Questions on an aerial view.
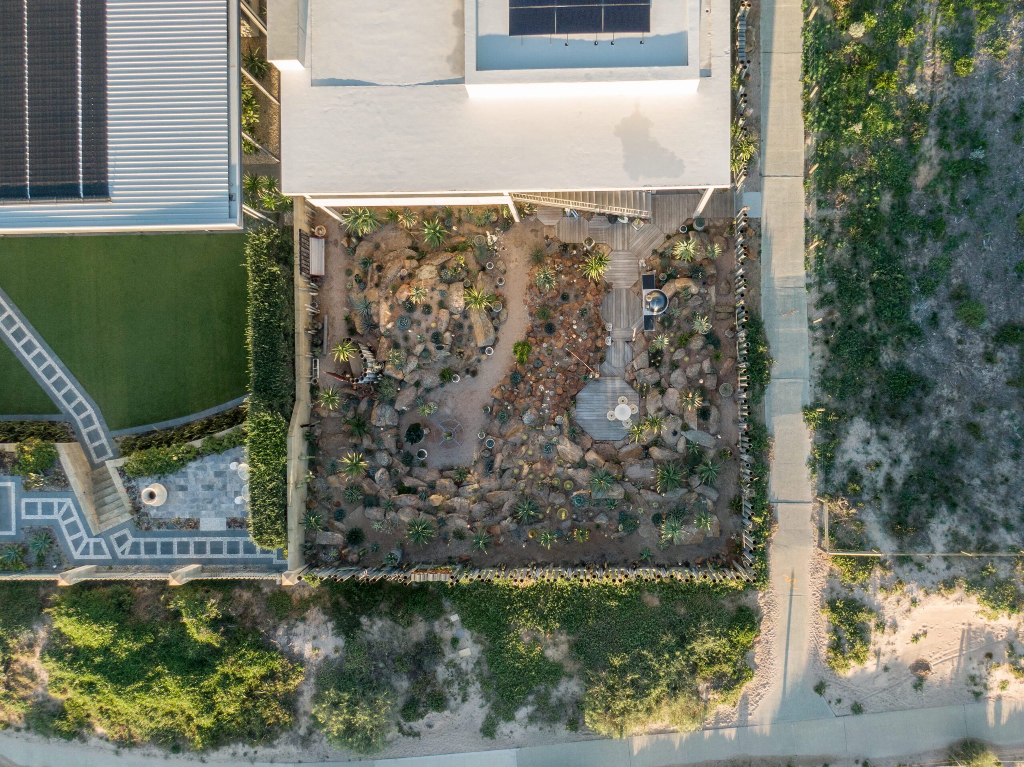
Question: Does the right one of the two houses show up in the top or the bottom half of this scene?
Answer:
top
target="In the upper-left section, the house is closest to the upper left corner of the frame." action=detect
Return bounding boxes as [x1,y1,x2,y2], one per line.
[0,0,283,238]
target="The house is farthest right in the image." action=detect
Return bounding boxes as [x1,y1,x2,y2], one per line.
[267,0,730,222]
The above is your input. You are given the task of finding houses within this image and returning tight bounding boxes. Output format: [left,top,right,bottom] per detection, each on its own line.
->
[0,0,283,238]
[267,0,730,222]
